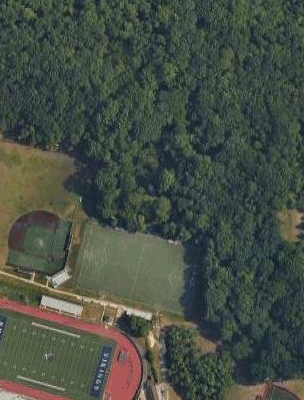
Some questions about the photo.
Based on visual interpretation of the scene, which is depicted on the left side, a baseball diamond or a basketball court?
baseball diamond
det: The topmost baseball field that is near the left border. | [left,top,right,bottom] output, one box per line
[6,210,71,275]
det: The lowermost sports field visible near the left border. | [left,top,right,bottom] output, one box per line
[0,311,116,400]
